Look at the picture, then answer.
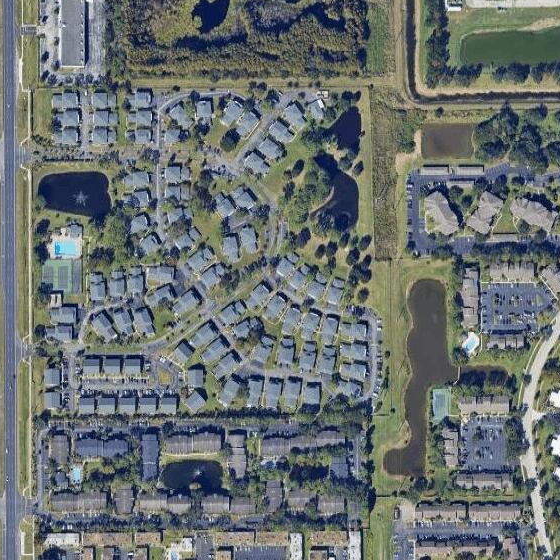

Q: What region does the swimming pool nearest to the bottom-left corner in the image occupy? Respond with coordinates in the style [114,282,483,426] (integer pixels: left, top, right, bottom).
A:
[68,462,83,485]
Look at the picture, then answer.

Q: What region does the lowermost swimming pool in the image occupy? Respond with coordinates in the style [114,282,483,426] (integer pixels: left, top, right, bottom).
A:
[165,544,193,560]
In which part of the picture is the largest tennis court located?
left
